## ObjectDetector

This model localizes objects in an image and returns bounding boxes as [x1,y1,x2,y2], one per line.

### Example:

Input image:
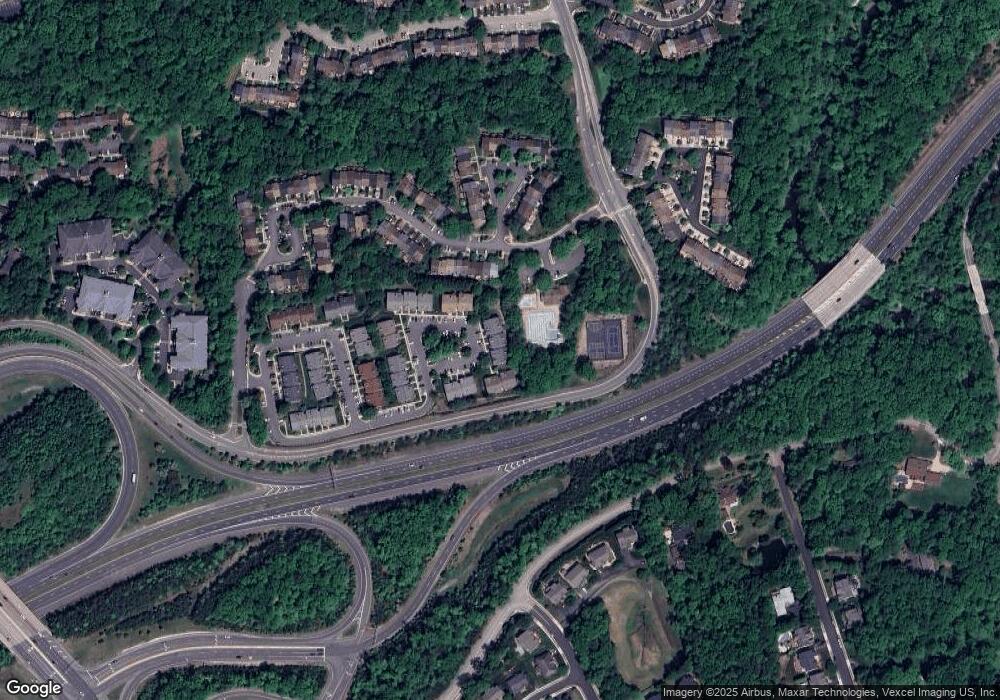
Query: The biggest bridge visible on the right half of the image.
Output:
[802,240,887,328]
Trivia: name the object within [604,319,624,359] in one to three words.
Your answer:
tennis court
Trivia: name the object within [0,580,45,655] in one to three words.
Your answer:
overpass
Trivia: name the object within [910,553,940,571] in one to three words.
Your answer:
house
